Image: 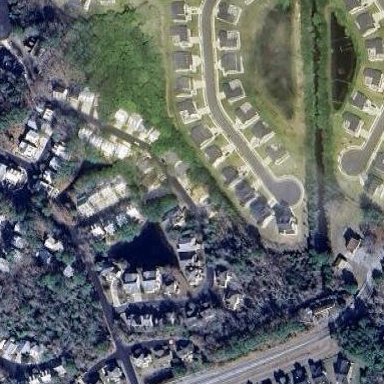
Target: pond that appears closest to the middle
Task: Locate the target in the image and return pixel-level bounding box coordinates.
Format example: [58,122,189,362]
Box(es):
[109,221,180,271]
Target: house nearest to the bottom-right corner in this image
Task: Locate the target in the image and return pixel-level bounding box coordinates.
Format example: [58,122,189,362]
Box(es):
[334,363,351,384]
